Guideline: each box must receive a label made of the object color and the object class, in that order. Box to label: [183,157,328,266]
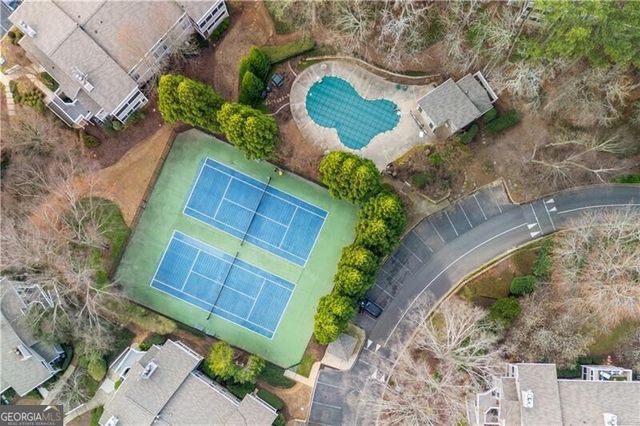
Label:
blue tennis court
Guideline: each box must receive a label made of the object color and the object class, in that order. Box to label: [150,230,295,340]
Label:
blue tennis court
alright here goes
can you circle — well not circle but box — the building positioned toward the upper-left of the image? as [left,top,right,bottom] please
[8,0,229,128]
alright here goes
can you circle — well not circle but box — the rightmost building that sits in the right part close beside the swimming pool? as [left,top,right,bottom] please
[416,69,500,138]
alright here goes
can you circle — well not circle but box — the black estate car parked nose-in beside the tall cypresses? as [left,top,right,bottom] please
[359,298,386,320]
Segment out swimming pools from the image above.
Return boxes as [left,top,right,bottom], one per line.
[301,72,403,153]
